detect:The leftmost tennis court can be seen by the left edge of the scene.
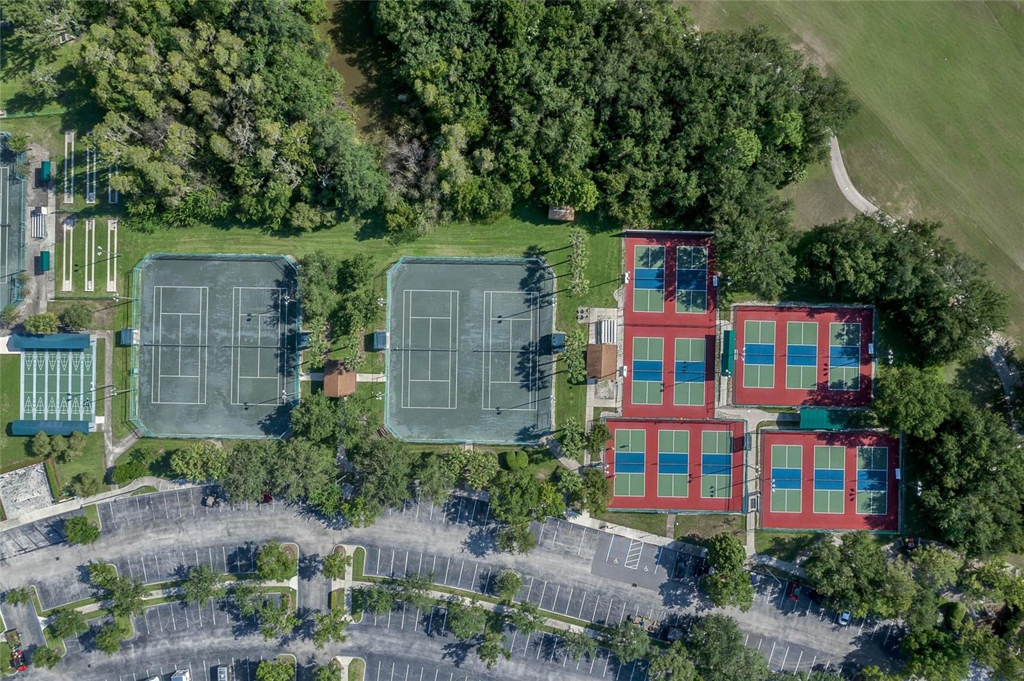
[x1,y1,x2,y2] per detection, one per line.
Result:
[0,135,24,306]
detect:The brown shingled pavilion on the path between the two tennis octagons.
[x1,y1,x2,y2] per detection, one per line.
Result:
[323,361,358,397]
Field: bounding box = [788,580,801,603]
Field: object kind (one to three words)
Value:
vehicle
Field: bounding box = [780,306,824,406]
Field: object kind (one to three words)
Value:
sports court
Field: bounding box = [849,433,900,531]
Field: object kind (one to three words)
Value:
sports court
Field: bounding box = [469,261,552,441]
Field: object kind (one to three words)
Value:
tennis court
